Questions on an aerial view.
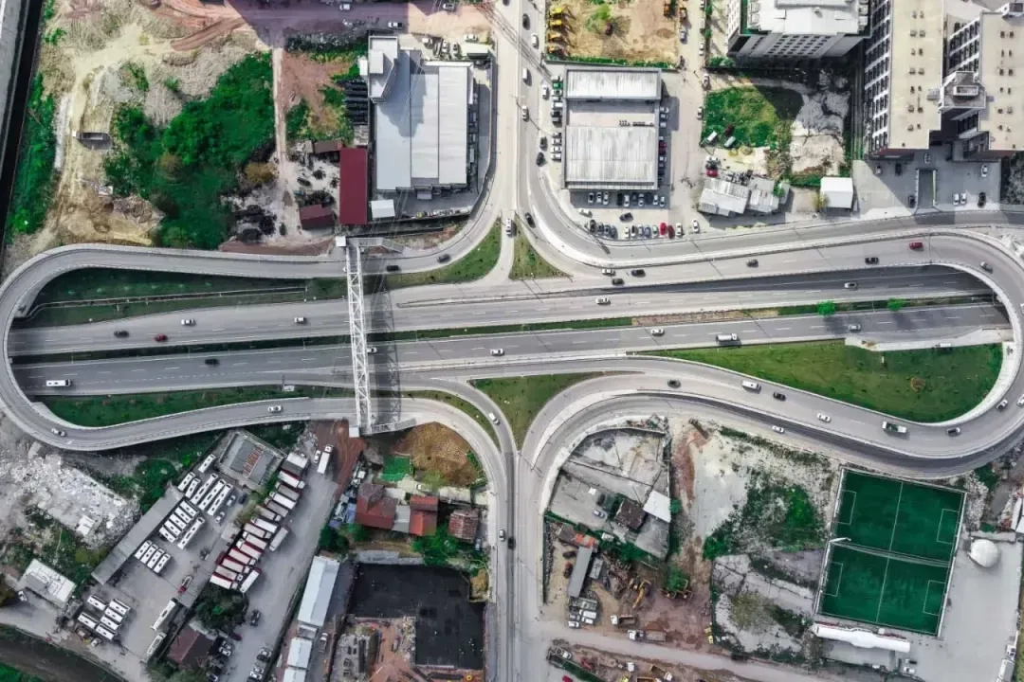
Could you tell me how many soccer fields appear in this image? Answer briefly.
2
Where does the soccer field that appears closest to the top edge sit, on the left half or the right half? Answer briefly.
right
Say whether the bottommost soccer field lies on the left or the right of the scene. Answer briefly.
right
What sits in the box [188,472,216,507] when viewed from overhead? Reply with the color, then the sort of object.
white bus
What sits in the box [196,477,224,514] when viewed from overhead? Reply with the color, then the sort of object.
white bus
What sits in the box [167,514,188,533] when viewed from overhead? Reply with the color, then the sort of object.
white vehicle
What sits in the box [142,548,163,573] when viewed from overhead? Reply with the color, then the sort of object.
white vehicle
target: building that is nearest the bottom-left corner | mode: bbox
[21,555,86,603]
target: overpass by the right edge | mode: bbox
[621,227,1024,459]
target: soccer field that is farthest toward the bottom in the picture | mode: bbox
[817,542,957,640]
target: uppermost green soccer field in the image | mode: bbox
[831,470,972,568]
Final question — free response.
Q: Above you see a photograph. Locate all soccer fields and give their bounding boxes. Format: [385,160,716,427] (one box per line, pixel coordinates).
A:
[831,470,972,568]
[817,542,957,640]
